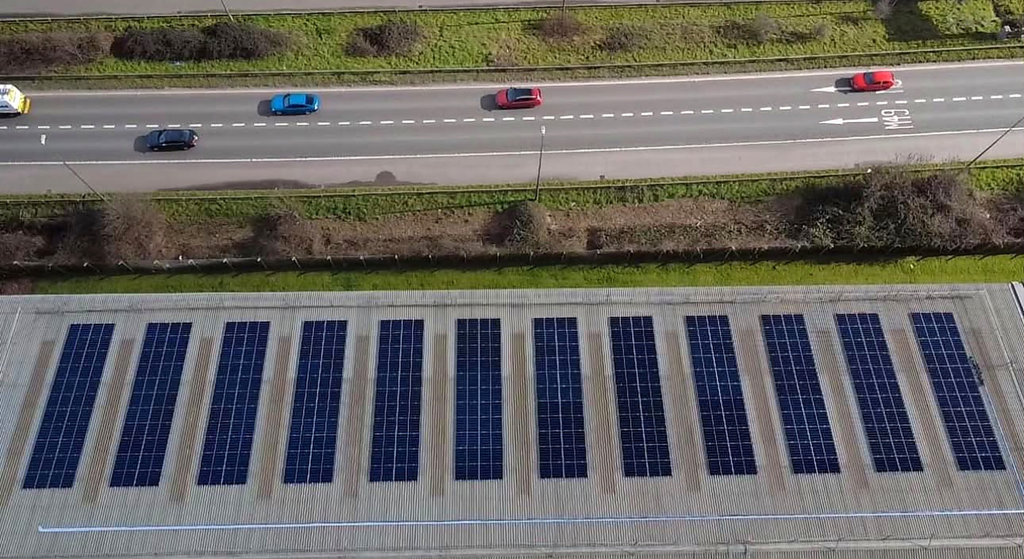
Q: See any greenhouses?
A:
No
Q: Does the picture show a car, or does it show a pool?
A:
car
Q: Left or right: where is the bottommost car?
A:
left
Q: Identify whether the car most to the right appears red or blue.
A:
red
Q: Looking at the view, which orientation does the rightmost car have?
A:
horizontally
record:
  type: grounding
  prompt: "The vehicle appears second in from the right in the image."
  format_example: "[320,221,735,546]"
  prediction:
[492,84,543,108]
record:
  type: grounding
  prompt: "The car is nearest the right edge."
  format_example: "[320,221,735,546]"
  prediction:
[846,70,894,91]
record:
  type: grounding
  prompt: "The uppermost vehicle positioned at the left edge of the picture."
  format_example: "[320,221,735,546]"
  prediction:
[0,88,34,117]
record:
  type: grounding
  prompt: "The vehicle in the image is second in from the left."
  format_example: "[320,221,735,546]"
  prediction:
[143,127,201,150]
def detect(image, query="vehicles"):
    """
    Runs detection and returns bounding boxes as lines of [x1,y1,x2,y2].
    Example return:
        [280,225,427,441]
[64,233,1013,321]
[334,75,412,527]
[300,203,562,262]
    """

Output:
[0,88,34,117]
[269,91,321,113]
[846,70,894,91]
[492,84,543,108]
[143,127,201,150]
